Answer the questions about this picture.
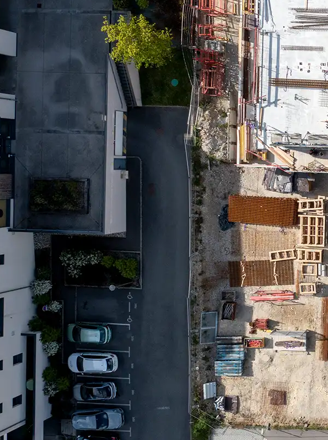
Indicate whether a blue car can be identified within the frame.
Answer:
Yes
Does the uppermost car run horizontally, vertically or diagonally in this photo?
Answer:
horizontally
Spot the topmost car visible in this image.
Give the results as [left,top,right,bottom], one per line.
[63,322,111,348]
